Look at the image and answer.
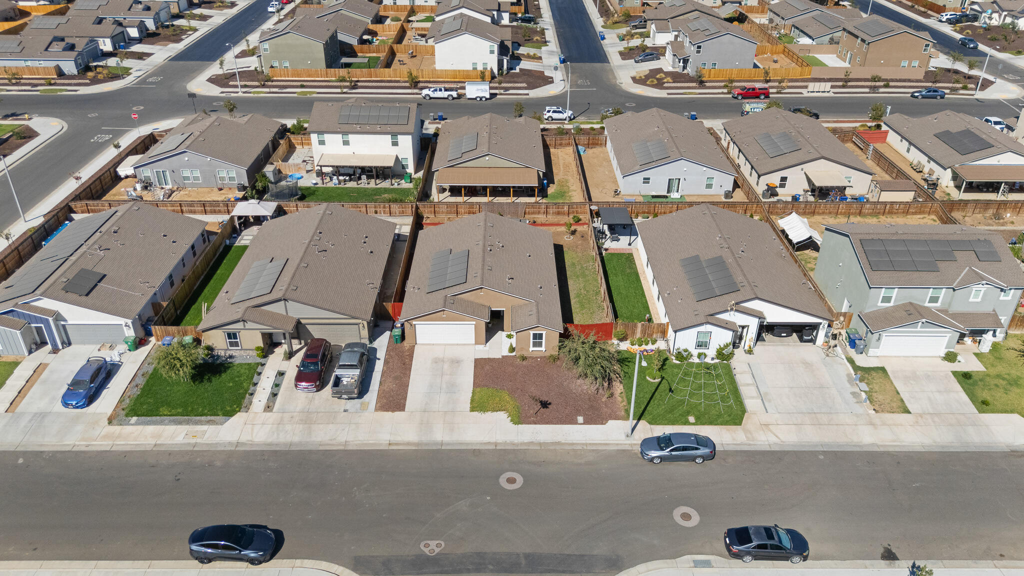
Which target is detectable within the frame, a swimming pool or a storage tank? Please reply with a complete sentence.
It is a swimming pool that can be seen here.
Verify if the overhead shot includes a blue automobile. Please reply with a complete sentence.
Yes, there's a blue automobile here.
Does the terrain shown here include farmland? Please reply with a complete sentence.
No, there is no farmland in the image.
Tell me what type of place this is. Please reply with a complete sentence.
It's a residential area.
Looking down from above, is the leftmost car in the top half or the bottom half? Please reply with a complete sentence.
The bottom half of the photo is where the leftmost car is.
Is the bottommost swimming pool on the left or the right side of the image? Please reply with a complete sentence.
It is on the left.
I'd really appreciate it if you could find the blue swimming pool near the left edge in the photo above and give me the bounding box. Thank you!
[28,222,69,260]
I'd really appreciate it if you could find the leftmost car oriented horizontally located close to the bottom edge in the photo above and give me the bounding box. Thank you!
[187,524,280,566]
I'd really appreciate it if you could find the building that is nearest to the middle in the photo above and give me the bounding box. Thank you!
[398,210,564,359]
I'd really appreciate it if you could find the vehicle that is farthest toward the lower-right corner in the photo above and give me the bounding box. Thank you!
[721,525,810,565]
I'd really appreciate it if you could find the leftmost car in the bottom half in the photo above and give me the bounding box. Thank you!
[57,356,114,409]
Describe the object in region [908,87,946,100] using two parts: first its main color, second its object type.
blue vehicle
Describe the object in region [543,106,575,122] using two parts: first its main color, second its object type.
white car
